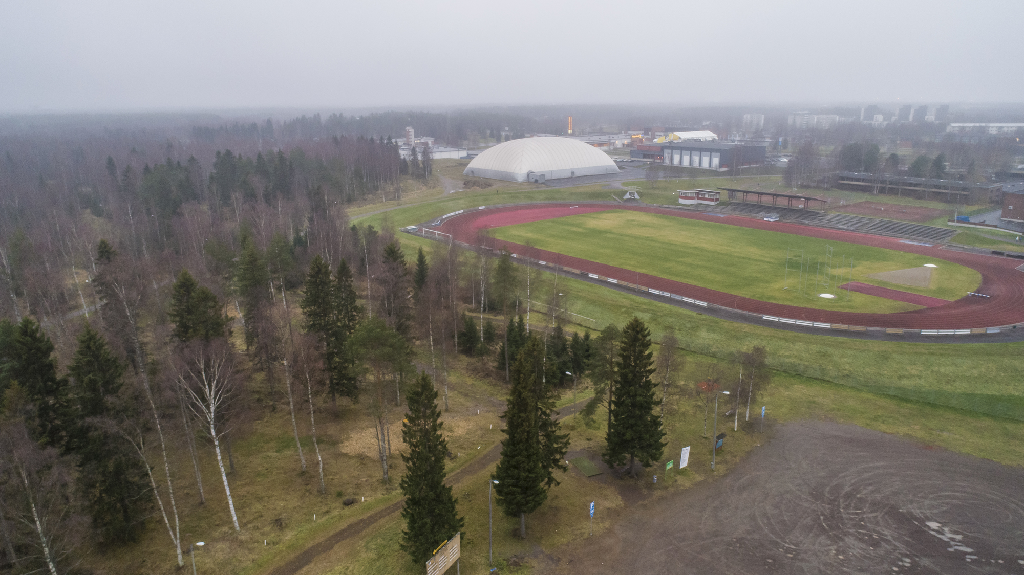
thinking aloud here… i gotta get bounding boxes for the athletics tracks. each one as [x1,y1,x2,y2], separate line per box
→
[440,202,1024,328]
